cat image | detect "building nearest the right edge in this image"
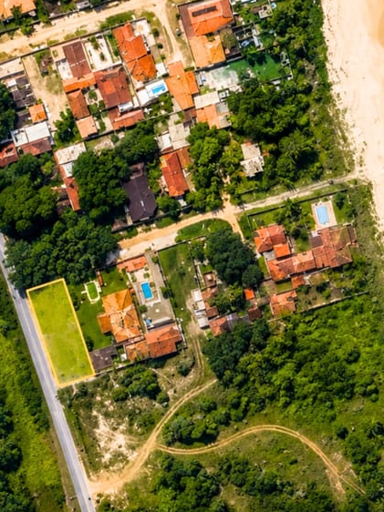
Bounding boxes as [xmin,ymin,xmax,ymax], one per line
[310,224,358,269]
